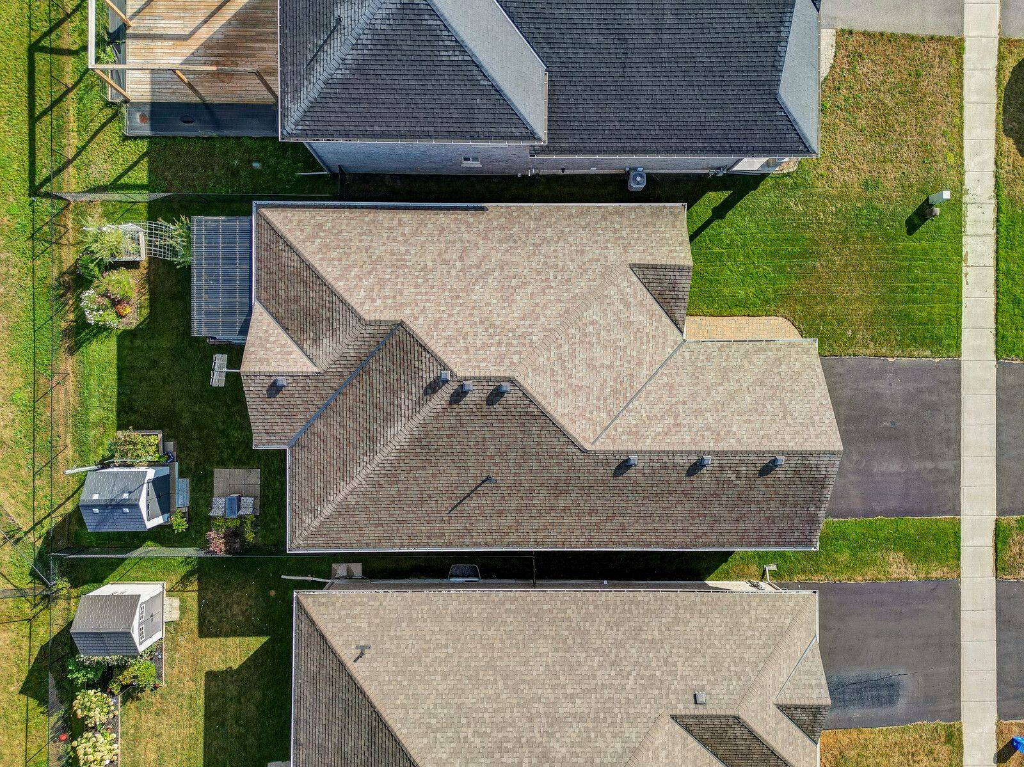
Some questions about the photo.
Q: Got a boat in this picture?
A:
No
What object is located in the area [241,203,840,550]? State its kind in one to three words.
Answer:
house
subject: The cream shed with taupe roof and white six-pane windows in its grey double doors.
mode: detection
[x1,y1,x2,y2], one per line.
[70,584,162,655]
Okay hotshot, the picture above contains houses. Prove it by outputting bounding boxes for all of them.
[241,203,840,550]
[282,564,832,767]
[279,0,827,178]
